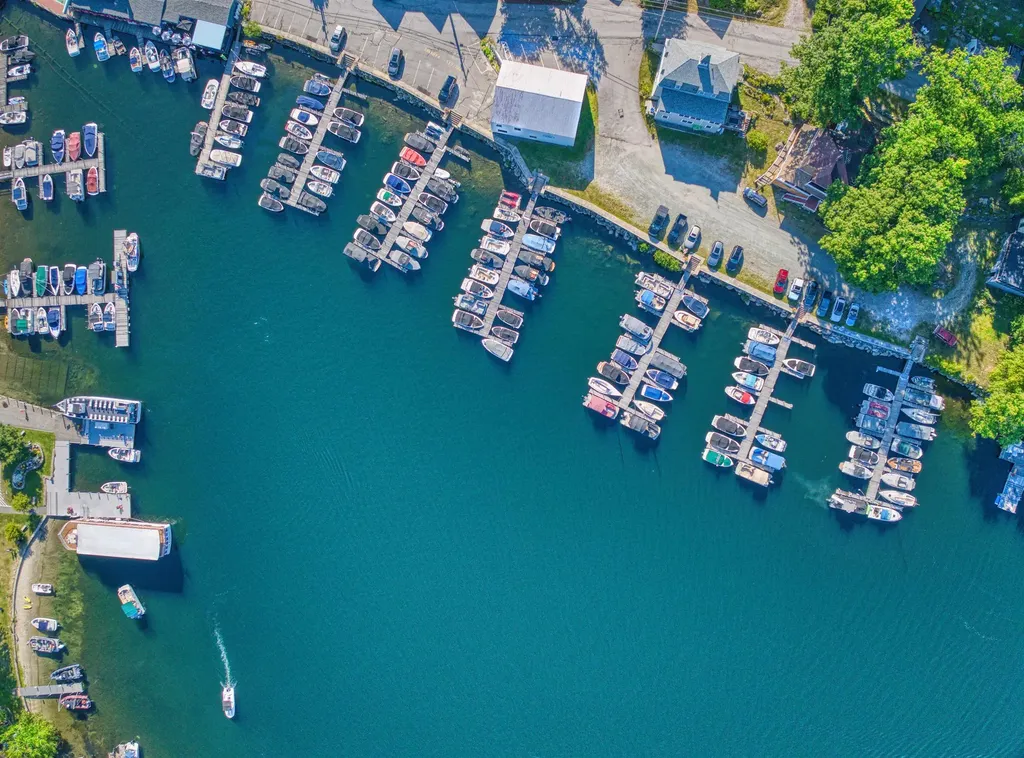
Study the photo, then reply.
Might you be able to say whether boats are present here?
Yes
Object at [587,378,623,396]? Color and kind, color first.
white boat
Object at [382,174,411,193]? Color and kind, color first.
blue boat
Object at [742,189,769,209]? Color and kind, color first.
blue vehicle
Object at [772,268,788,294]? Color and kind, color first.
red car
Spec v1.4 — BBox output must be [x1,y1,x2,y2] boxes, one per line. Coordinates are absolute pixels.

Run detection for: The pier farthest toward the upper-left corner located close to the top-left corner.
[0,53,31,116]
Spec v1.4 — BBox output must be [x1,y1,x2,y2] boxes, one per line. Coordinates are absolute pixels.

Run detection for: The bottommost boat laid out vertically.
[222,686,236,720]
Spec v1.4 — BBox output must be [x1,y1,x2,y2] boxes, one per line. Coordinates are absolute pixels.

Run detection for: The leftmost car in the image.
[330,24,346,54]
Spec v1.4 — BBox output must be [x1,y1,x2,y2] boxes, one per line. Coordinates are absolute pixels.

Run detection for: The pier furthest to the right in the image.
[995,436,1024,513]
